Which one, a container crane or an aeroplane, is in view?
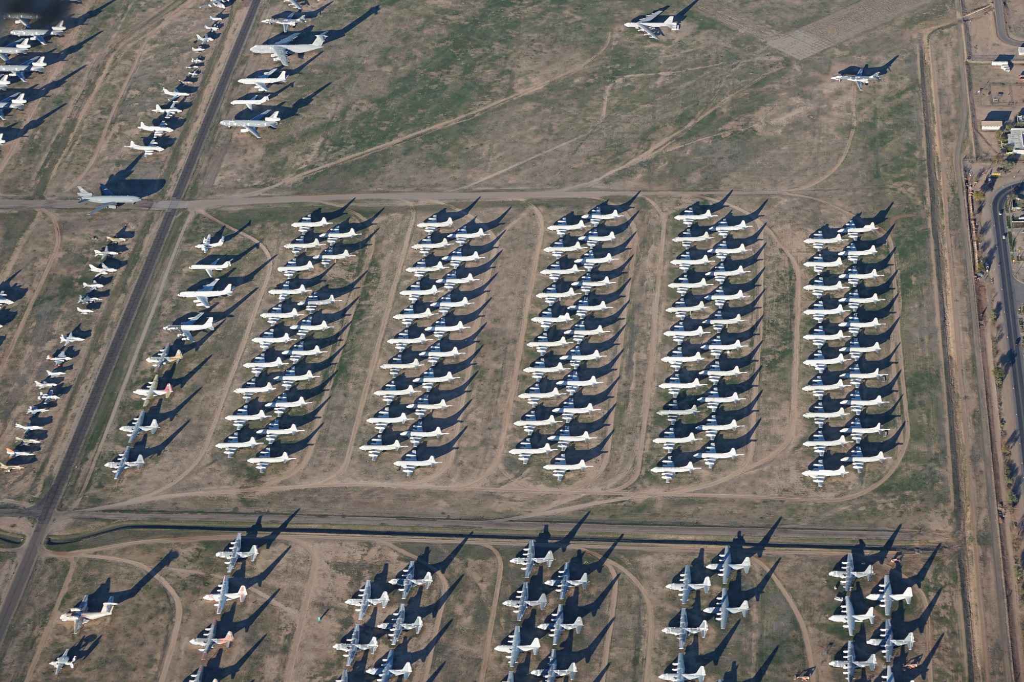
aeroplane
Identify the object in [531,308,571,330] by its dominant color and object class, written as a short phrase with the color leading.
white airplane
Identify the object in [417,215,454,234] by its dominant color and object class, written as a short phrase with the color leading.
white airplane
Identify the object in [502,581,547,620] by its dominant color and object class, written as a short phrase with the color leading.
gray airplane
